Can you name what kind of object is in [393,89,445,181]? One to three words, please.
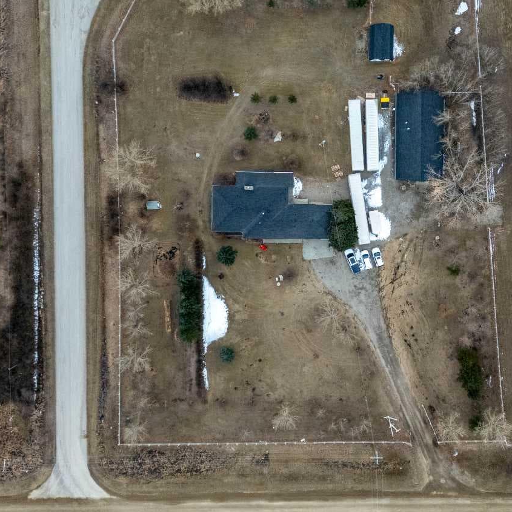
building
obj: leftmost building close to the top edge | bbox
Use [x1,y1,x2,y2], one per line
[368,22,393,66]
